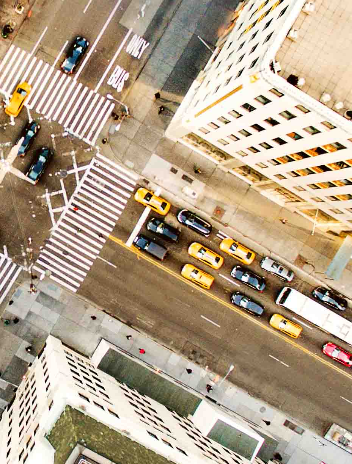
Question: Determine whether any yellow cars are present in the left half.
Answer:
Yes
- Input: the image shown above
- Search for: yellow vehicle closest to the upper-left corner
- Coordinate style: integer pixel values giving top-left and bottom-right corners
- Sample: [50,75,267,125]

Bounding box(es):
[5,79,31,119]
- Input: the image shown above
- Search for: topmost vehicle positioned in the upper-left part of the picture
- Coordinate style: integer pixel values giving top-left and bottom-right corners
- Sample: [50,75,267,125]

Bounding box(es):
[60,36,89,76]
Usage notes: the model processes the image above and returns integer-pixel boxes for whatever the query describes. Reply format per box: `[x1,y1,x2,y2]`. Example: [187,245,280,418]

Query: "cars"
[175,209,214,238]
[60,36,89,76]
[144,215,182,244]
[309,285,350,314]
[266,311,305,341]
[132,187,173,217]
[320,340,352,369]
[258,255,295,284]
[26,146,54,187]
[186,241,226,271]
[5,79,31,119]
[14,119,43,160]
[218,237,258,267]
[228,265,269,294]
[228,289,269,319]
[178,261,218,291]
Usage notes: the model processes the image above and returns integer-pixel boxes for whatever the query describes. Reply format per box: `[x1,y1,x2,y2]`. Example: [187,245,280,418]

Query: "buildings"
[162,0,352,279]
[0,334,285,464]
